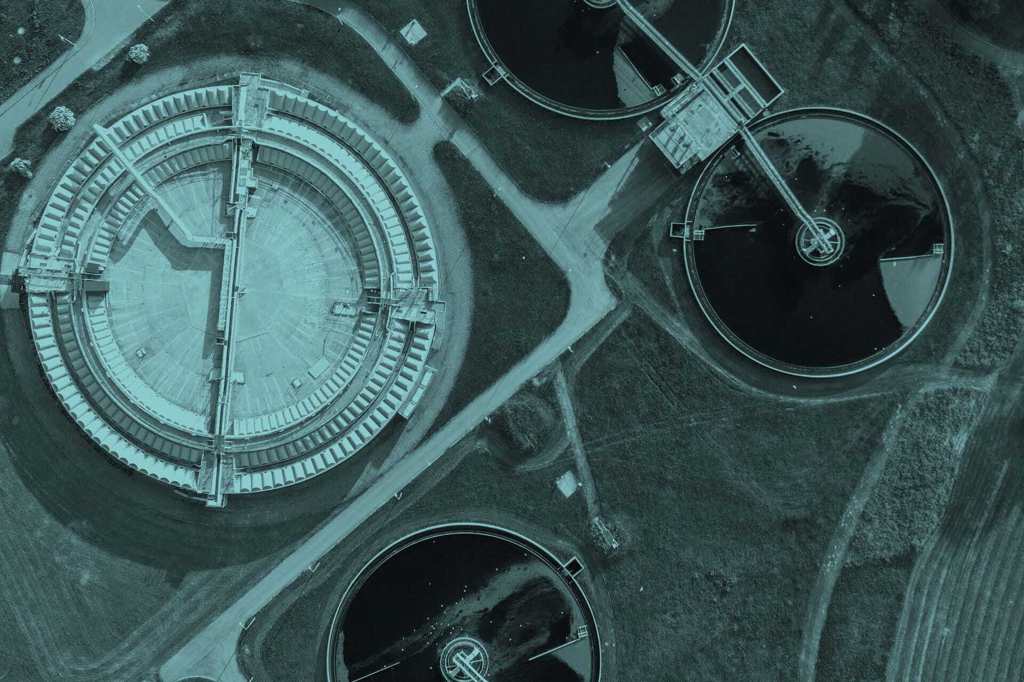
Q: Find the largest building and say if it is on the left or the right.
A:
right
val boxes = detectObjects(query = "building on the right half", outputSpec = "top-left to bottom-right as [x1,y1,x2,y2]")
[645,44,784,178]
